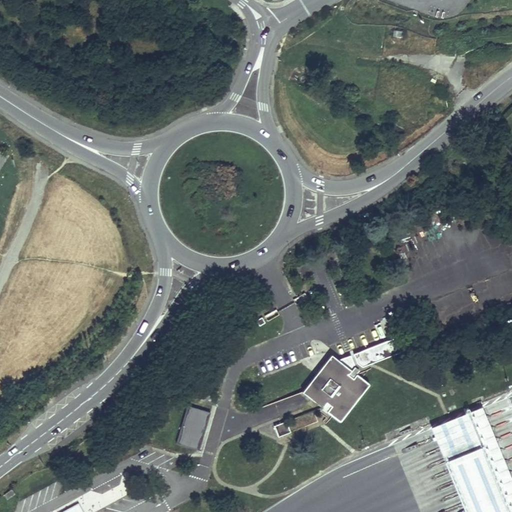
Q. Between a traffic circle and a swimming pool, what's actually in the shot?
traffic circle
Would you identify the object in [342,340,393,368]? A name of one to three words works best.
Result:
building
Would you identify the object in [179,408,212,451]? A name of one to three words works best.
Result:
building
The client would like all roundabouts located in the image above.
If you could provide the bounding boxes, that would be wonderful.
[106,70,354,304]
